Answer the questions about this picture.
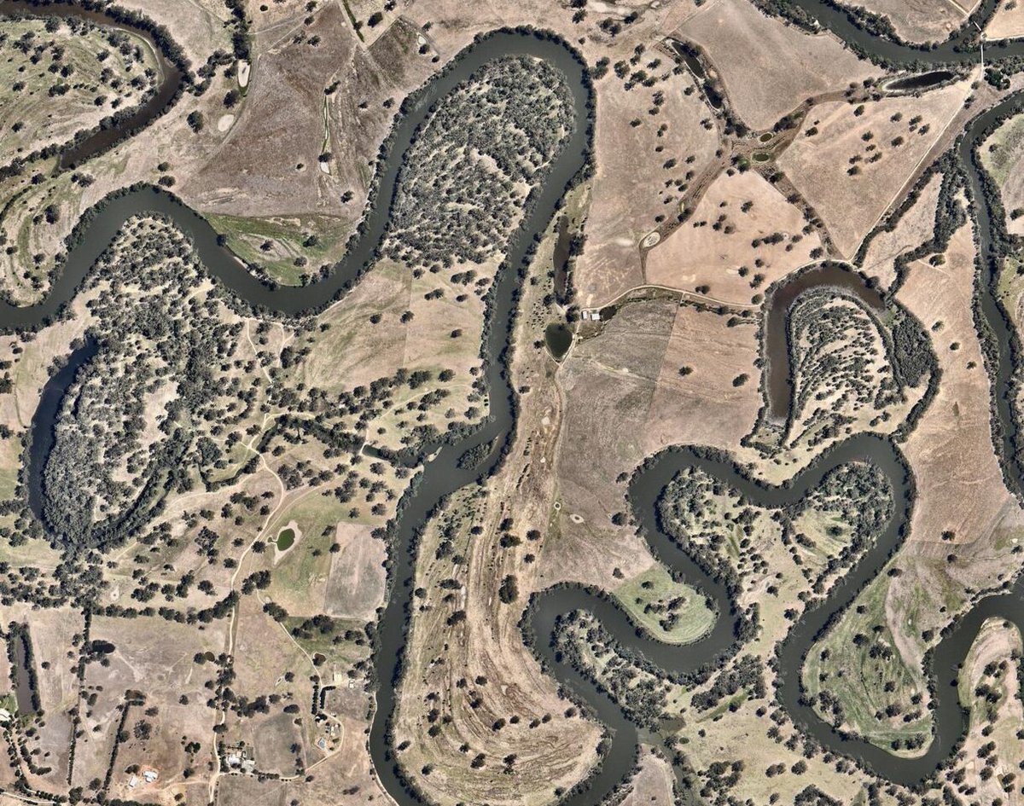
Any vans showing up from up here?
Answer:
No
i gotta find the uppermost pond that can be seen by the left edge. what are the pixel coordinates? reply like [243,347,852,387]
[28,338,97,541]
